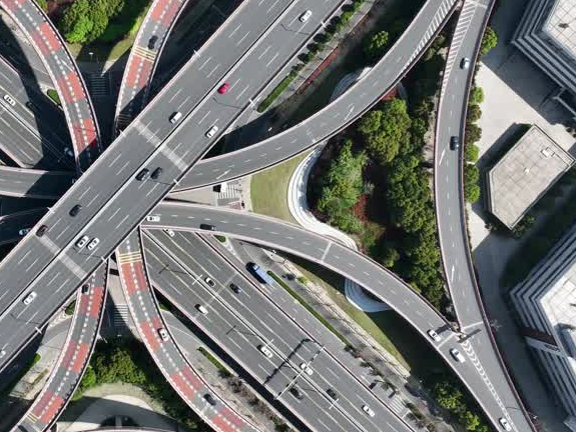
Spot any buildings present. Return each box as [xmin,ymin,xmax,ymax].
[483,125,576,229]
[507,228,576,432]
[510,0,576,125]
